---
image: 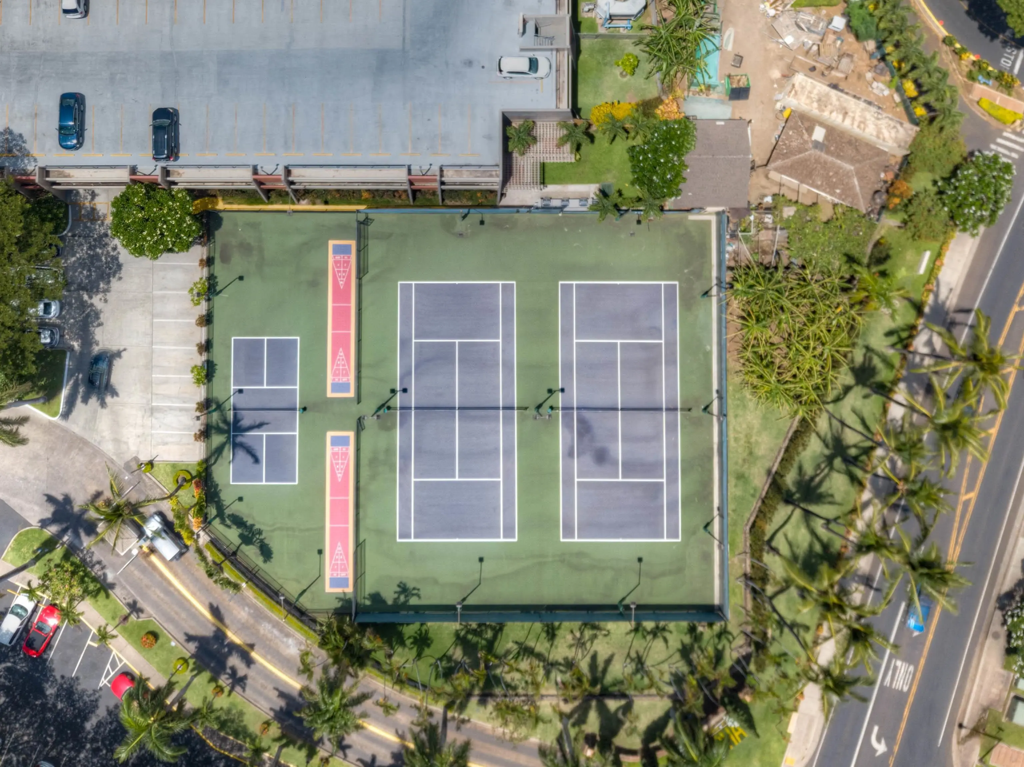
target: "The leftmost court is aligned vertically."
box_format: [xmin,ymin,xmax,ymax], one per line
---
[230,337,300,484]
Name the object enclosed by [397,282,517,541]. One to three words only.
tennis court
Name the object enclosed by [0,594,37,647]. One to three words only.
car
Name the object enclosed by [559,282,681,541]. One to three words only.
tennis court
